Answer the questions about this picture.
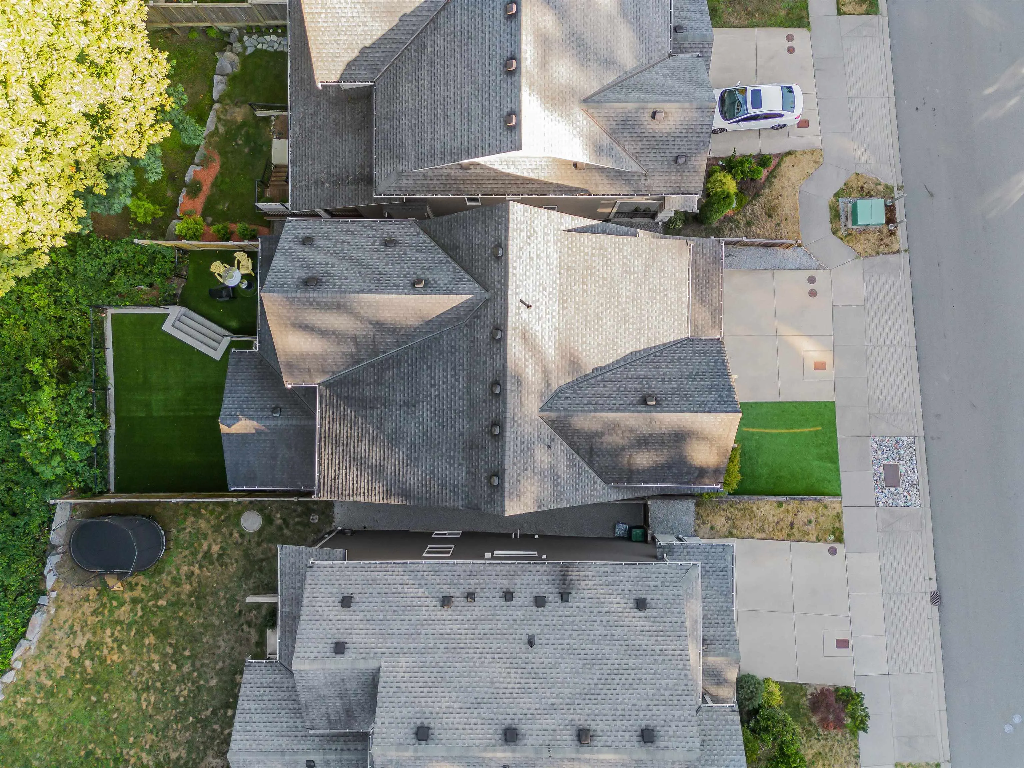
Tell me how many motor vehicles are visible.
1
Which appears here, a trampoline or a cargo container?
trampoline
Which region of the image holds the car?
top right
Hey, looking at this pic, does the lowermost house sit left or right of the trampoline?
to the right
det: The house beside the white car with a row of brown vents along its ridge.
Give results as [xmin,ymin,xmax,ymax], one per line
[247,0,716,227]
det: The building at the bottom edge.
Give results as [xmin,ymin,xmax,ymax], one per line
[228,516,744,768]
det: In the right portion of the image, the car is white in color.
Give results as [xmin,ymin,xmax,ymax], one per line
[711,81,804,135]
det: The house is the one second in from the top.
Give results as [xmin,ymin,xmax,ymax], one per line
[218,200,742,517]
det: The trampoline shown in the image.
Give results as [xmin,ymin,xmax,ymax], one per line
[46,513,173,588]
